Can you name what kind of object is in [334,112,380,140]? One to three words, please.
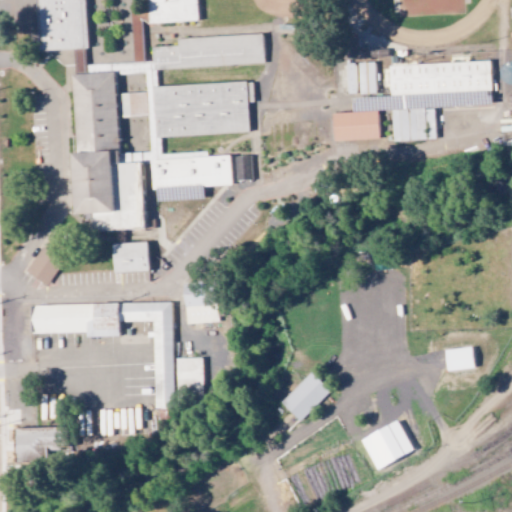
barn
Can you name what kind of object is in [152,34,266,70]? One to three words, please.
building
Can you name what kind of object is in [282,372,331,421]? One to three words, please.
house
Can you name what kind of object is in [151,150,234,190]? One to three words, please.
building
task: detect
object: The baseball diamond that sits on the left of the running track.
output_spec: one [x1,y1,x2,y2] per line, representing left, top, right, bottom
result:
[206,0,294,26]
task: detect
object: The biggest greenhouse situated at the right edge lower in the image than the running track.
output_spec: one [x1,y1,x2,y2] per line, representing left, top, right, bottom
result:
[392,61,494,95]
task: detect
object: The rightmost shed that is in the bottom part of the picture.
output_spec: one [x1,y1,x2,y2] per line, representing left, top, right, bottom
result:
[446,346,476,372]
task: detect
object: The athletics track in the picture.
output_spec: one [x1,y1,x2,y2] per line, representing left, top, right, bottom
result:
[360,0,501,46]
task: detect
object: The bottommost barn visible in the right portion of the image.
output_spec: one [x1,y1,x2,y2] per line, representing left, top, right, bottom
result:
[362,422,414,472]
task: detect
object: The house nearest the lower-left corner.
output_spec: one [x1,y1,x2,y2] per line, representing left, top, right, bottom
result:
[16,428,60,464]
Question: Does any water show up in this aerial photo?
No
